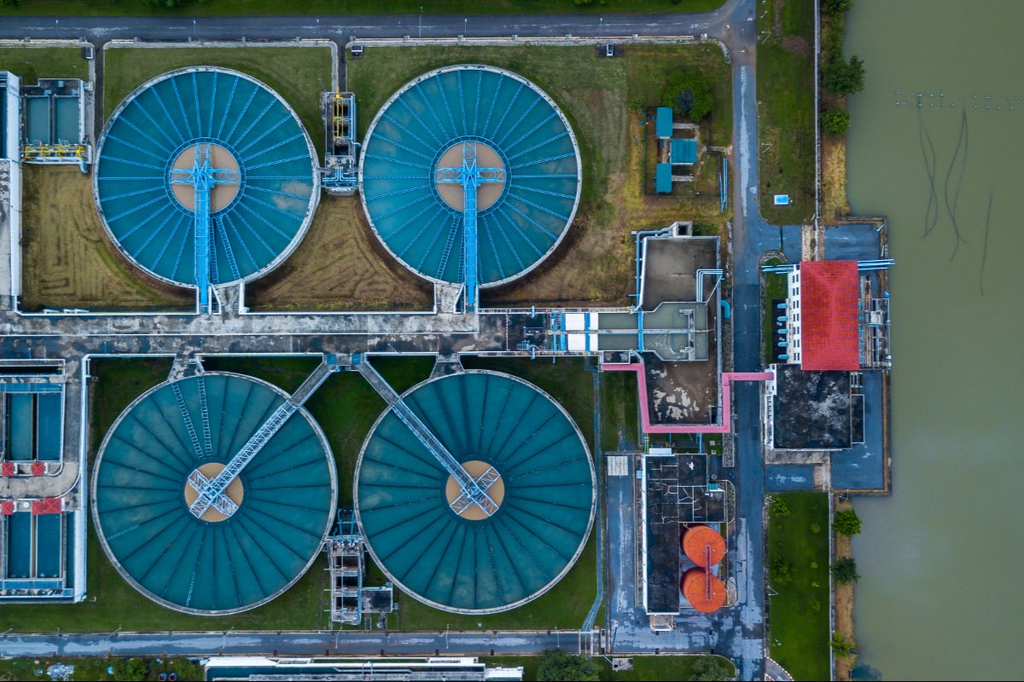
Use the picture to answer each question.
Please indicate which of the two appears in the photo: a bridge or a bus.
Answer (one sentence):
This aerial view contains a bridge.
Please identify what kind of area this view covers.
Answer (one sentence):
This image shows an industrial area.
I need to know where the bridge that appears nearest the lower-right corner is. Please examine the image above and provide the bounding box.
[578,628,606,655]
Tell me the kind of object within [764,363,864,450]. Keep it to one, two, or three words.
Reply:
building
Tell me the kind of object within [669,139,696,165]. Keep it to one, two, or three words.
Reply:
shed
